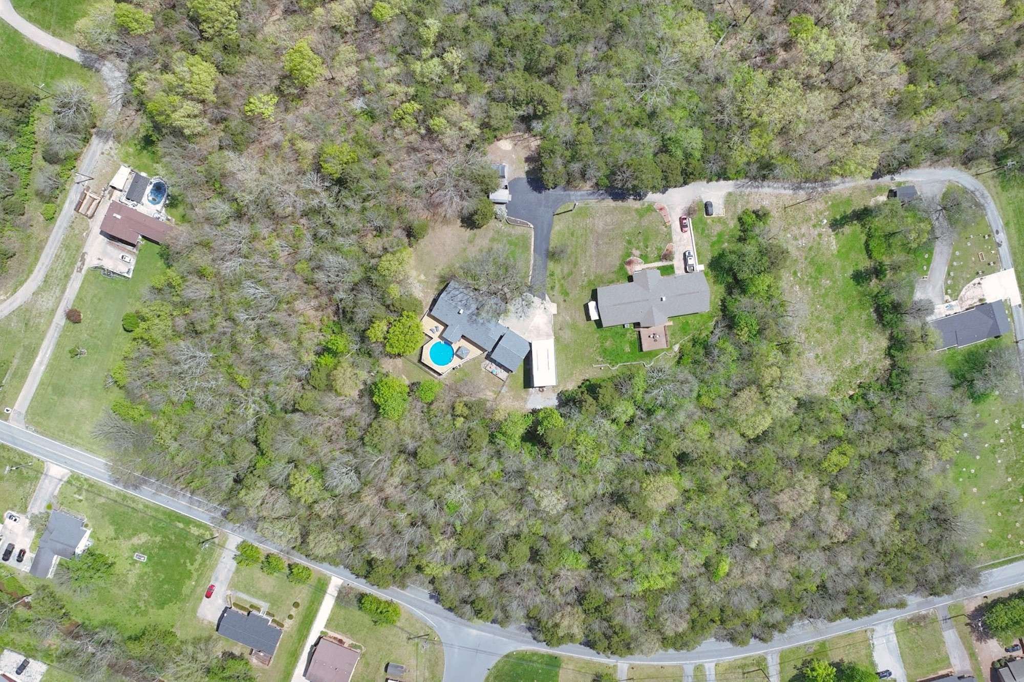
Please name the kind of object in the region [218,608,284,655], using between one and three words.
house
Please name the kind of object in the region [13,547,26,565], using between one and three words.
vehicle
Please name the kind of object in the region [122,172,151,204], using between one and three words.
building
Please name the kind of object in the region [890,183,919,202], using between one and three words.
shed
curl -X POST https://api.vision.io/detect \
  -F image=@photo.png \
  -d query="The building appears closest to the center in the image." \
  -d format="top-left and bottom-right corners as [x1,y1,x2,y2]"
[491,330,531,372]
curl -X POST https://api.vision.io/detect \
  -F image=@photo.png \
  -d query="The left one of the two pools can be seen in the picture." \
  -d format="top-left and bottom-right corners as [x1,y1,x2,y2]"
[146,178,169,205]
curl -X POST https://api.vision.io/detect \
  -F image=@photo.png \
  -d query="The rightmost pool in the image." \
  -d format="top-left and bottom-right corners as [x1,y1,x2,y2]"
[429,340,454,366]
